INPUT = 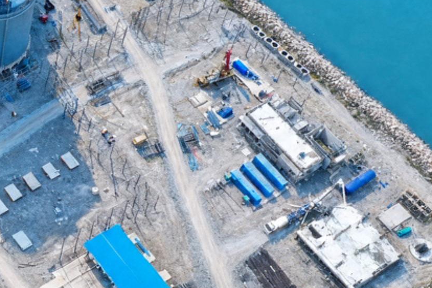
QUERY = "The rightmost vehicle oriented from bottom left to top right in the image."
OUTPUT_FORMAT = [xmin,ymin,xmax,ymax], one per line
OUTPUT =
[286,180,346,225]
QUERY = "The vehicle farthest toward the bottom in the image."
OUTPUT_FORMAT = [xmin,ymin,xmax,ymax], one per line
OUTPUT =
[261,214,295,236]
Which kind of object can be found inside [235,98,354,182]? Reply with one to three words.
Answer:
building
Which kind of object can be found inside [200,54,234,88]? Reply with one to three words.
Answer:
crane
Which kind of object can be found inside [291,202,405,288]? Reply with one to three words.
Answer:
building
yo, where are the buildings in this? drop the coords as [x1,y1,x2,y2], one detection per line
[82,224,169,288]
[291,202,405,288]
[235,98,354,182]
